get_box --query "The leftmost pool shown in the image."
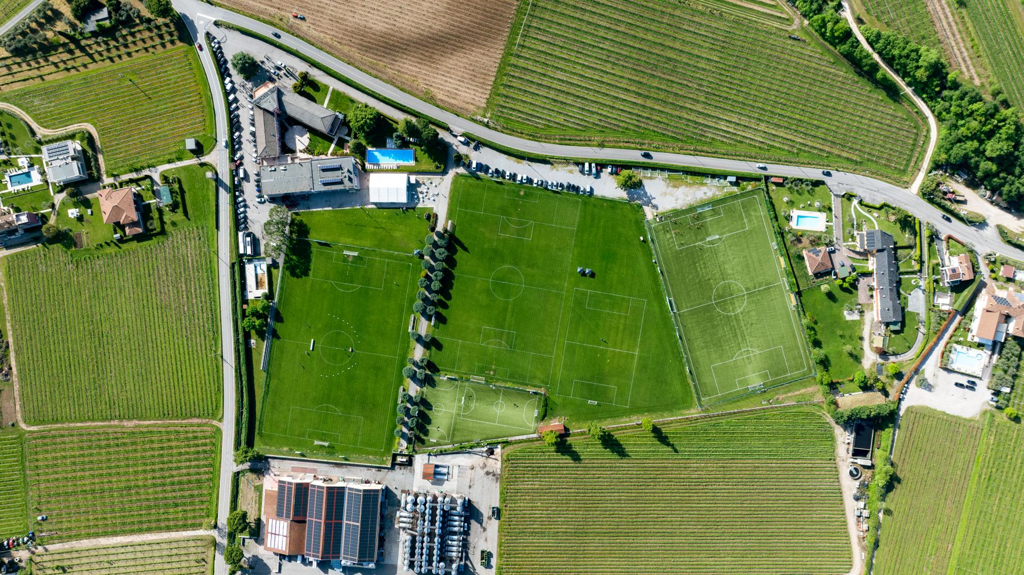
[5,166,43,189]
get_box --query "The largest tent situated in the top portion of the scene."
[370,173,408,203]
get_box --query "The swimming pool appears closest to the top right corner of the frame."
[790,209,827,232]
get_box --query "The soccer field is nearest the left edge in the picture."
[259,241,417,454]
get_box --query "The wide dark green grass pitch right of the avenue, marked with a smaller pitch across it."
[427,178,585,389]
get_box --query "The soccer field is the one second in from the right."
[554,285,650,410]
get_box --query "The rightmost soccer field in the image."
[647,187,814,406]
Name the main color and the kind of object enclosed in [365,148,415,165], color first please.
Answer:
blue swimming pool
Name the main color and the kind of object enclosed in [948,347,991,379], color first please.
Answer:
white swimming pool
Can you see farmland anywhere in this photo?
Yes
